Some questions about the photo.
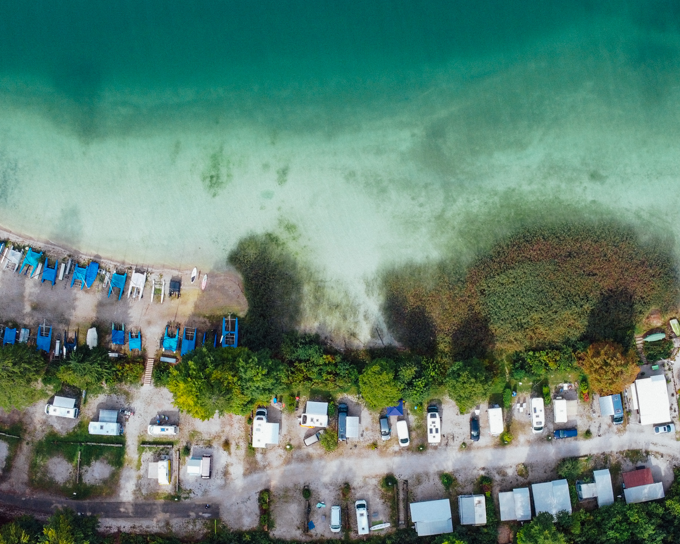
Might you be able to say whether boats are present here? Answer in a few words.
Yes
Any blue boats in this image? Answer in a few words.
Yes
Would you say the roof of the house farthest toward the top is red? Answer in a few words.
No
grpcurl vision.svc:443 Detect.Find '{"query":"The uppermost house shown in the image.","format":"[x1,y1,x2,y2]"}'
[628,375,671,425]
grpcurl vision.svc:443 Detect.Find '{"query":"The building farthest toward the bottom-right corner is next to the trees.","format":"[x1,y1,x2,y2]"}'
[619,465,664,504]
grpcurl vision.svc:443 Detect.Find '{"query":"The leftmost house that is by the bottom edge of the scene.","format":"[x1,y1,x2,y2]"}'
[410,498,453,536]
